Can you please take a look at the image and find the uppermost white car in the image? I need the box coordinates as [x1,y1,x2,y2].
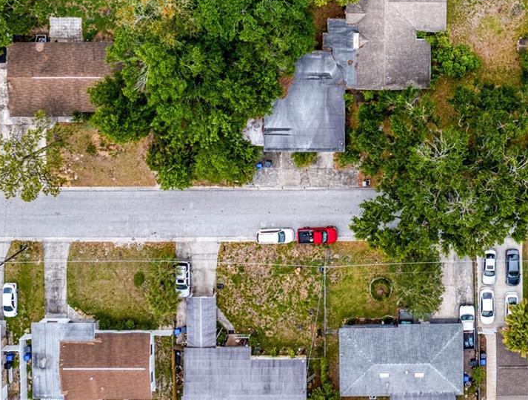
[257,227,294,246]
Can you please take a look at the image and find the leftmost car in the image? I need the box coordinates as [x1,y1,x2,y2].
[0,282,20,317]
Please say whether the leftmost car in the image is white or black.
white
